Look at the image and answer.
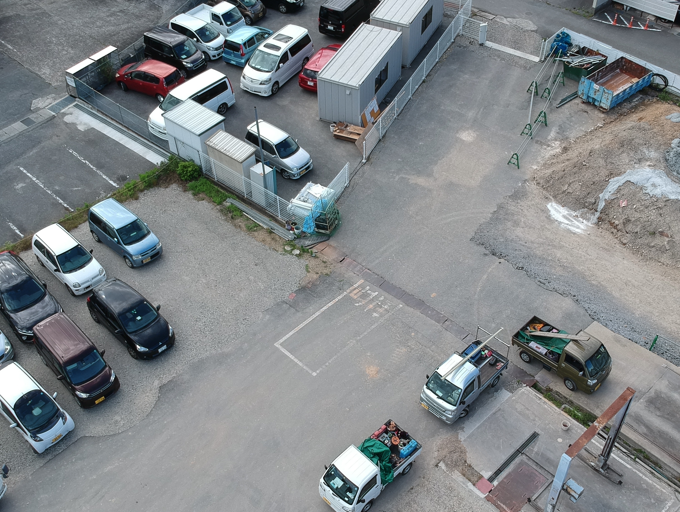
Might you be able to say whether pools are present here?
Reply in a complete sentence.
No, there's no pool here.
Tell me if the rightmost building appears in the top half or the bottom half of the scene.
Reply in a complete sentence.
The rightmost building sits in the top half of the picture.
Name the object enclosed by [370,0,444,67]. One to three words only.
building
